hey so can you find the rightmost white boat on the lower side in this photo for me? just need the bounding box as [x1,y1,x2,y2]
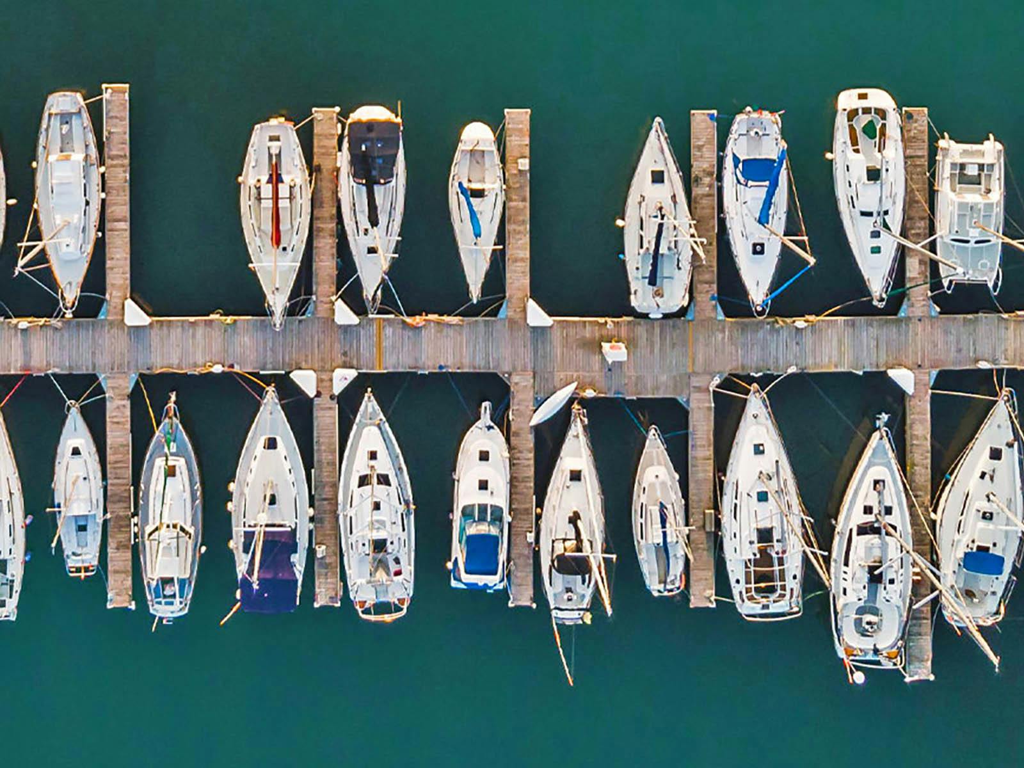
[936,398,1024,635]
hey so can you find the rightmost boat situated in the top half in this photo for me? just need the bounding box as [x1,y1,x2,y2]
[931,134,1024,294]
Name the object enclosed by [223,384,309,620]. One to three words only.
boat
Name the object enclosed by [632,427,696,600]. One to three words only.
boat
